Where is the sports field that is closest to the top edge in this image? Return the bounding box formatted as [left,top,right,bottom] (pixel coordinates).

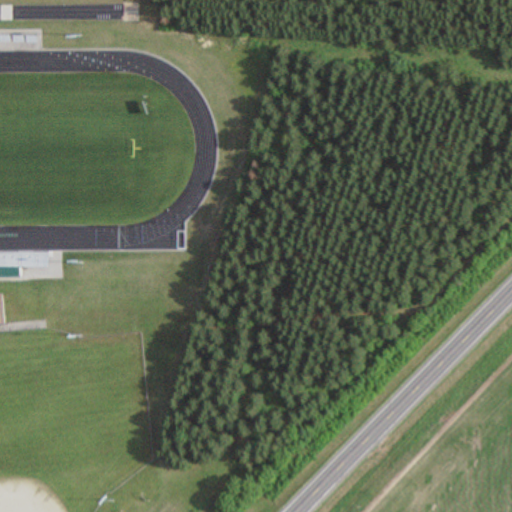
[0,74,194,224]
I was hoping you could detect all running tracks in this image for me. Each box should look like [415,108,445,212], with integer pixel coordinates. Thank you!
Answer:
[0,50,218,250]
